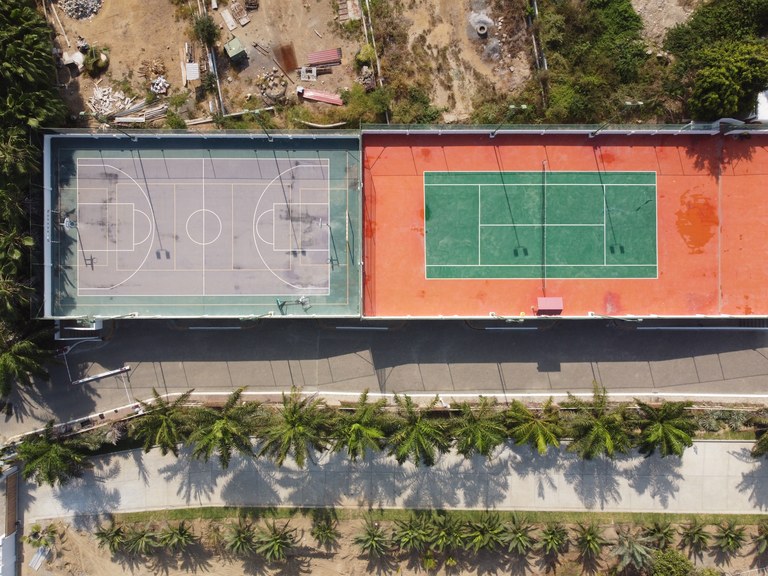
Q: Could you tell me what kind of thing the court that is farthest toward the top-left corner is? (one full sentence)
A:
I'd say the court that is farthest toward the top-left corner is a basketball court.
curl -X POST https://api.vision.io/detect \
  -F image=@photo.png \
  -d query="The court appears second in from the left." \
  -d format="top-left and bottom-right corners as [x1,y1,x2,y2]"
[362,134,718,316]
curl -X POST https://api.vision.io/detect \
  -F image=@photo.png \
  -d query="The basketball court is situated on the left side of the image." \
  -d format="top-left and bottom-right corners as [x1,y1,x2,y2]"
[50,138,358,315]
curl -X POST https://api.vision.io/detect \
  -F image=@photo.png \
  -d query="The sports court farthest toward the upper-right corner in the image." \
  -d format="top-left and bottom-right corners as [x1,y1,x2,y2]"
[720,134,768,316]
